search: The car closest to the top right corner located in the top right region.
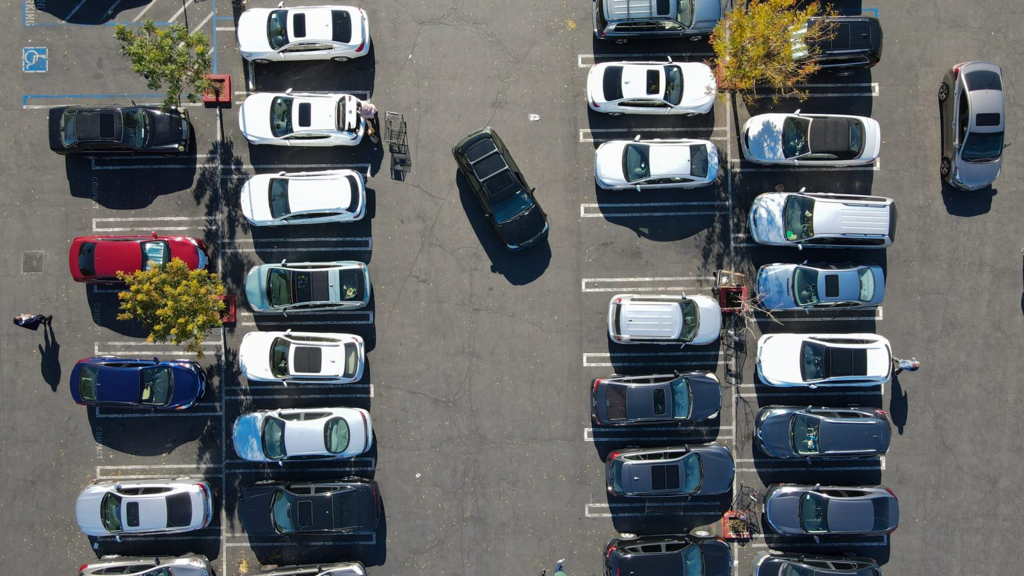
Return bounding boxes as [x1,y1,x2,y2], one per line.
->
[938,61,1011,190]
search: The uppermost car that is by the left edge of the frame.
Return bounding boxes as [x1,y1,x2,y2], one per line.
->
[50,100,190,160]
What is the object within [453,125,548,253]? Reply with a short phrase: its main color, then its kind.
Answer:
black car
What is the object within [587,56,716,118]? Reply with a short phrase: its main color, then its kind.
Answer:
white car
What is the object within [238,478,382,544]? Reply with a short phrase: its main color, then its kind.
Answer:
black car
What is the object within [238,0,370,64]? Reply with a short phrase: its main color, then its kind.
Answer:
white car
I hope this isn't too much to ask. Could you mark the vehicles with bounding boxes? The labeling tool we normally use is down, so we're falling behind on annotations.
[748,187,896,253]
[604,535,731,576]
[71,355,206,417]
[608,289,720,351]
[751,551,881,576]
[238,478,382,544]
[71,231,209,285]
[453,125,548,253]
[81,554,215,576]
[754,257,884,317]
[763,482,898,543]
[592,0,720,45]
[242,165,366,231]
[595,134,717,193]
[756,330,891,394]
[247,558,366,576]
[241,87,366,149]
[77,479,214,543]
[606,444,733,504]
[238,0,370,64]
[587,56,716,118]
[591,370,719,432]
[753,404,891,465]
[234,406,373,469]
[248,256,371,318]
[50,100,190,160]
[741,107,879,169]
[241,327,365,391]
[938,61,1011,190]
[751,9,882,72]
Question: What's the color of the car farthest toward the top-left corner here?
black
